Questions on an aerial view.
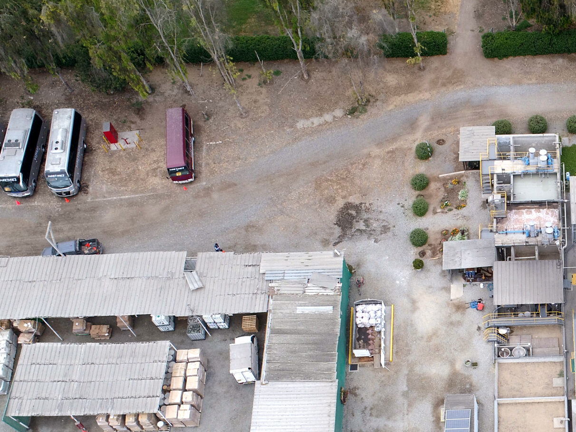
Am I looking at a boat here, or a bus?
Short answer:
bus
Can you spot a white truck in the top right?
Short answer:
No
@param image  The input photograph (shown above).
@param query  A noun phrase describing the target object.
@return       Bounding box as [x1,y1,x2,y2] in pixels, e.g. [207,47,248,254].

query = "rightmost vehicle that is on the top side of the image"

[164,108,198,188]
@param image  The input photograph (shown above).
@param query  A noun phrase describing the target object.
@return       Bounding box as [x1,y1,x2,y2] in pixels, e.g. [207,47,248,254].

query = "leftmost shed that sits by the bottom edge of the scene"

[4,341,179,432]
